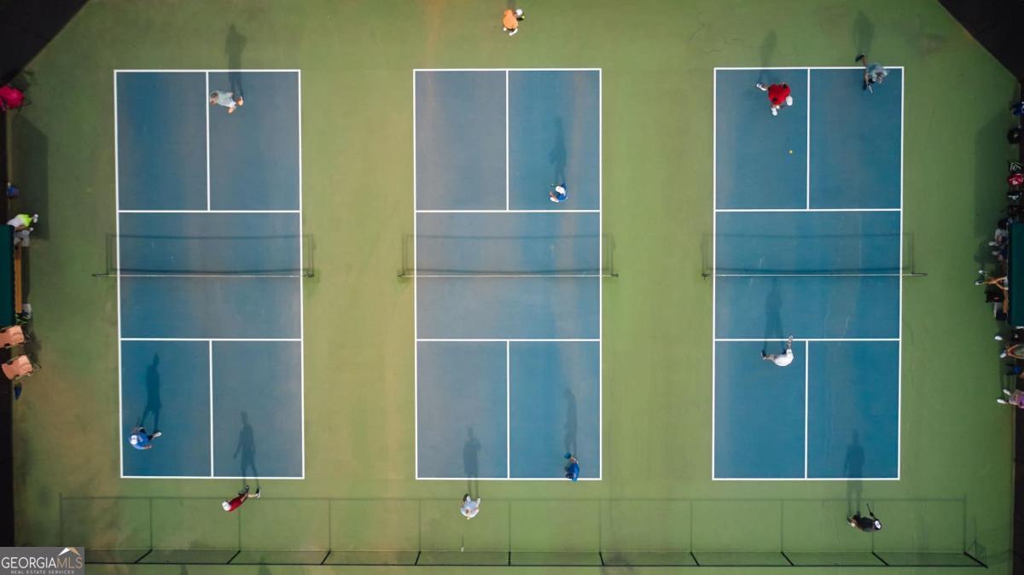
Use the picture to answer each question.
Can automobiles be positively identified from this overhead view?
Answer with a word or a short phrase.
No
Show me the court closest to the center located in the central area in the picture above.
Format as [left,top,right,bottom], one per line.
[413,68,602,480]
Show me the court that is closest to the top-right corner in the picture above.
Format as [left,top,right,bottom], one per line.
[712,66,904,480]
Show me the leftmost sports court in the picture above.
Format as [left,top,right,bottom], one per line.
[114,69,304,479]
